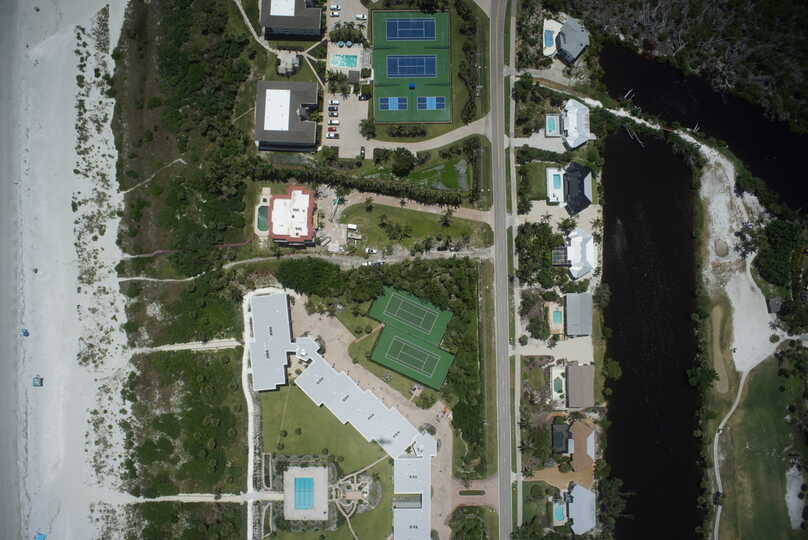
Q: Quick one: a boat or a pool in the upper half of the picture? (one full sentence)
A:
There is a pool in the upper half of the picture.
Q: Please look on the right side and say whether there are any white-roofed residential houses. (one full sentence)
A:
Yes, looking on the right side, one can make out a white-roofed residential house.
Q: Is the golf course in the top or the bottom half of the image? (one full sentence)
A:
You can find the golf course in the bottom half.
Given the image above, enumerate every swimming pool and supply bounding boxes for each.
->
[552,425,567,452]
[553,498,567,527]
[284,467,327,520]
[545,114,560,136]
[327,42,362,73]
[546,167,563,204]
[552,366,566,410]
[544,19,562,55]
[545,302,563,339]
[255,201,270,237]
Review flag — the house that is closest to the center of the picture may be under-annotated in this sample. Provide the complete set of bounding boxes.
[270,187,317,242]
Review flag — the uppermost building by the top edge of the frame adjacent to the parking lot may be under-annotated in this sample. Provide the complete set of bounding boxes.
[262,0,321,34]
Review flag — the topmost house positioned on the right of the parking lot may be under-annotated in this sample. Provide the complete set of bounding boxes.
[558,13,589,59]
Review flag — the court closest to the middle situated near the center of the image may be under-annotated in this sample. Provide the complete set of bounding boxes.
[384,293,439,334]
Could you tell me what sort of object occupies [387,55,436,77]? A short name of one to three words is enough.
tennis court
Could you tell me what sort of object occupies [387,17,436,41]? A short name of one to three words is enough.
tennis court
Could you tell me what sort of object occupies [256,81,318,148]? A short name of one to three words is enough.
building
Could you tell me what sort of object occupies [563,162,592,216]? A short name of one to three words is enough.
house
